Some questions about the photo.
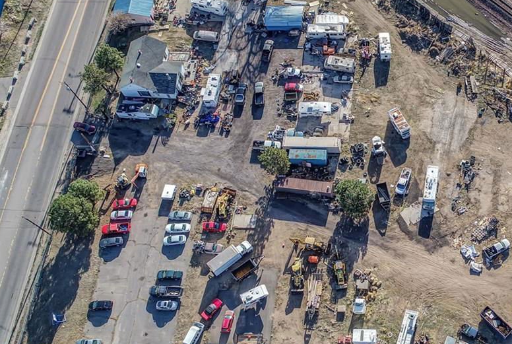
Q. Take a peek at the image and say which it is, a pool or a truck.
truck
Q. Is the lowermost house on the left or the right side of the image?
left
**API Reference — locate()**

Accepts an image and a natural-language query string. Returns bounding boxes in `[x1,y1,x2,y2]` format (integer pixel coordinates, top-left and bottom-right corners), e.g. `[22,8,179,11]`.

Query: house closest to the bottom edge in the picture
[114,37,190,101]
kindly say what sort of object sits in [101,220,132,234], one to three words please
vehicle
